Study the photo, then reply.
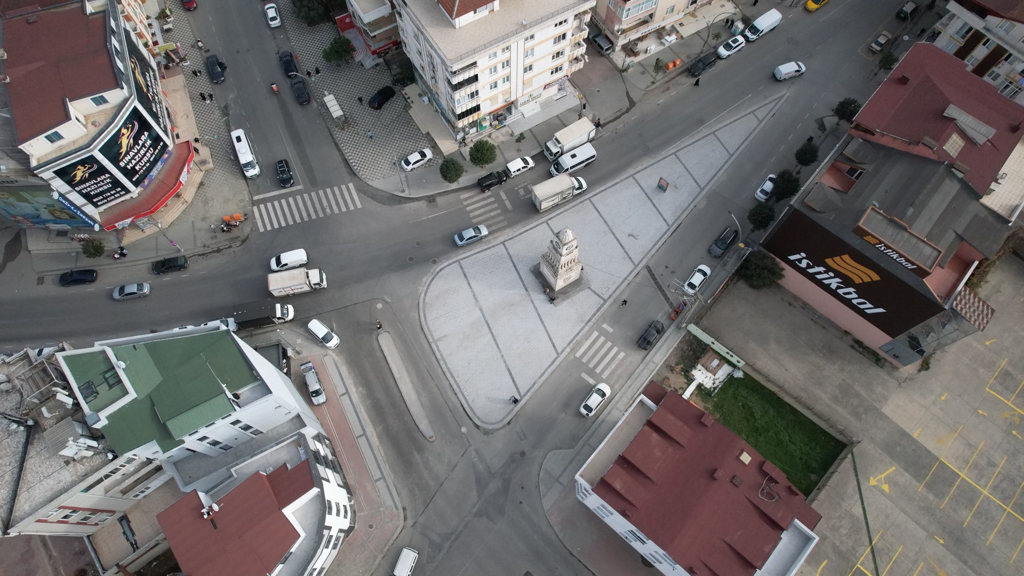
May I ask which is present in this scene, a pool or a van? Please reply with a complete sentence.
Visible in the photo is a van.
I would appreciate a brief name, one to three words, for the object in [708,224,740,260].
car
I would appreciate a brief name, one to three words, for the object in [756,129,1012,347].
building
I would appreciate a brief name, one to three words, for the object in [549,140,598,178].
vehicle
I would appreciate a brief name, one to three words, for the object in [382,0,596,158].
building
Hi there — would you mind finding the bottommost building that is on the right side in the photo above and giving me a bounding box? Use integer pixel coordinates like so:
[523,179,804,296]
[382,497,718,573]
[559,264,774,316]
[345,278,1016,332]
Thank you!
[566,381,821,576]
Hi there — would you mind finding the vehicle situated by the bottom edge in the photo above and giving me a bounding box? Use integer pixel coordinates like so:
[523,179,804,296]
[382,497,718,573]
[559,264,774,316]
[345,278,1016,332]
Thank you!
[391,535,427,576]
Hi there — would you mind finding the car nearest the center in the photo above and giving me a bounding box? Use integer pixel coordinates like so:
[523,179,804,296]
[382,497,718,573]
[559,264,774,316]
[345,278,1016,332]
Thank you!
[454,226,489,248]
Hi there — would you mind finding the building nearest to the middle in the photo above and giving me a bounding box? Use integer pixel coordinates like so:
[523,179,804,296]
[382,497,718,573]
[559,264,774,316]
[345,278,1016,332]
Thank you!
[530,228,591,307]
